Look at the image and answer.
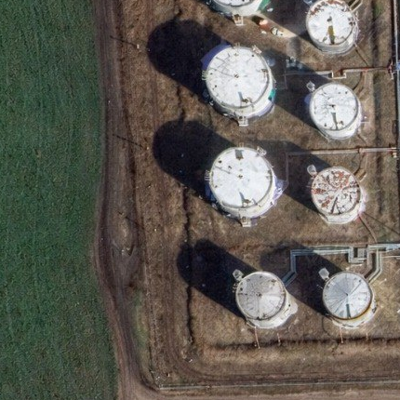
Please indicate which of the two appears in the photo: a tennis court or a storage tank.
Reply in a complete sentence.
Of the two, only a storage tank appears.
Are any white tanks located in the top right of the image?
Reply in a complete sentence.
Yes, in the top right of the image there is a white tank.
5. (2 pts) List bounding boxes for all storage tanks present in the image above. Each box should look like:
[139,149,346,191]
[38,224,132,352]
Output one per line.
[202,42,274,136]
[307,165,374,226]
[206,142,279,236]
[319,269,378,340]
[210,0,269,34]
[307,81,365,140]
[303,0,362,55]
[233,270,295,347]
